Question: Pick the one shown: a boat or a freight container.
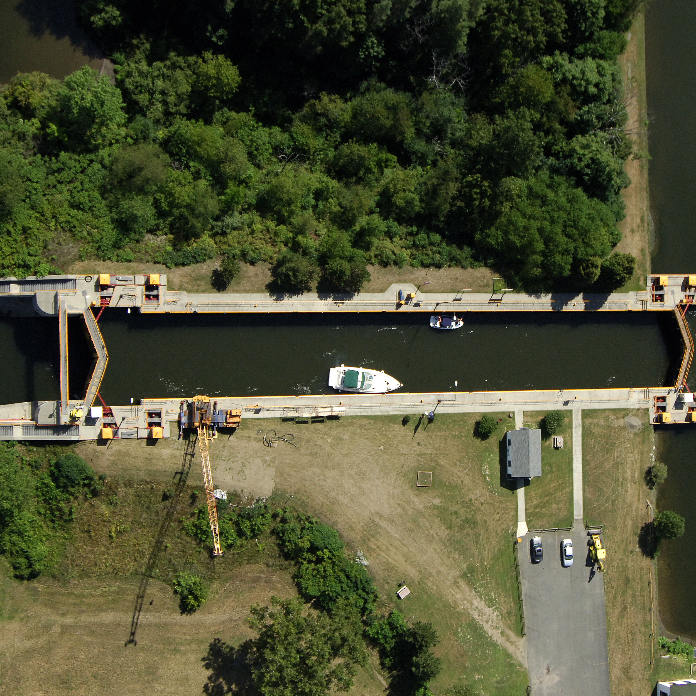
boat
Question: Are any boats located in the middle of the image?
Yes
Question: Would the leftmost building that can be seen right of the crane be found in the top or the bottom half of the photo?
bottom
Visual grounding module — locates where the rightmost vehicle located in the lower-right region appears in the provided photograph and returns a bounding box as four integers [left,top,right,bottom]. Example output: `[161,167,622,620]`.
[586,529,605,572]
